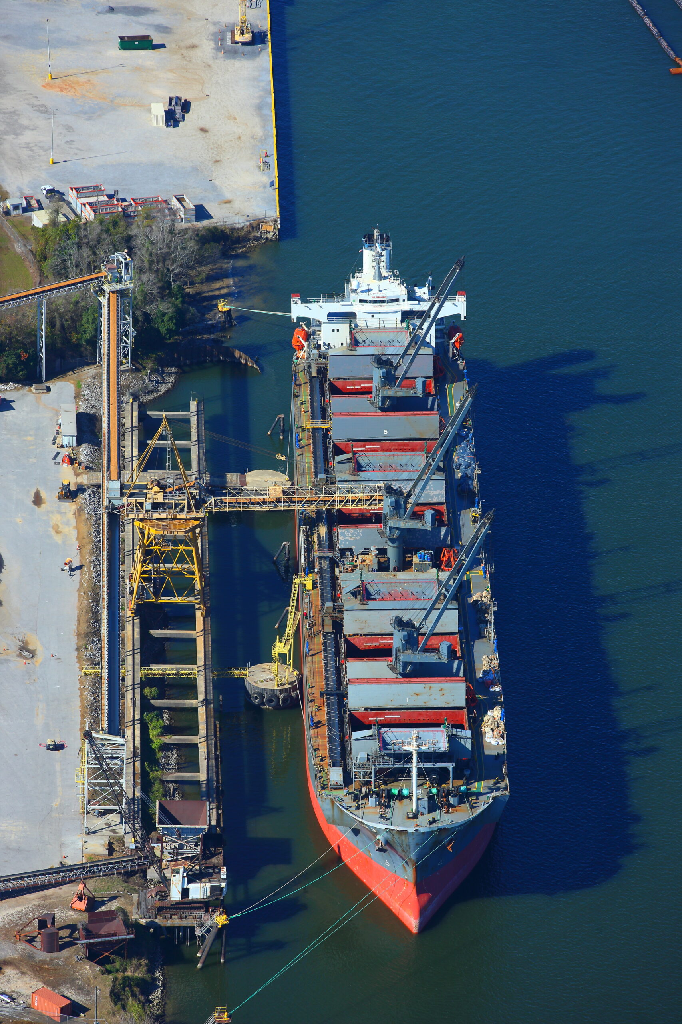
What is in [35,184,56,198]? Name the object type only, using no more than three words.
vehicle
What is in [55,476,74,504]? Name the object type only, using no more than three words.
work vehicle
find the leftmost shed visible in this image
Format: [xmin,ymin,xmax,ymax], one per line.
[5,194,24,215]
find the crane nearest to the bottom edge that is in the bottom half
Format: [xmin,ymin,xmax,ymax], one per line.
[81,722,229,916]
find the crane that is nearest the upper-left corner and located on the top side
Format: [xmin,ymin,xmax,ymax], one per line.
[230,0,253,45]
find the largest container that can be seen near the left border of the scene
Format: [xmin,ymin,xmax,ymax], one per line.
[31,985,72,1022]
